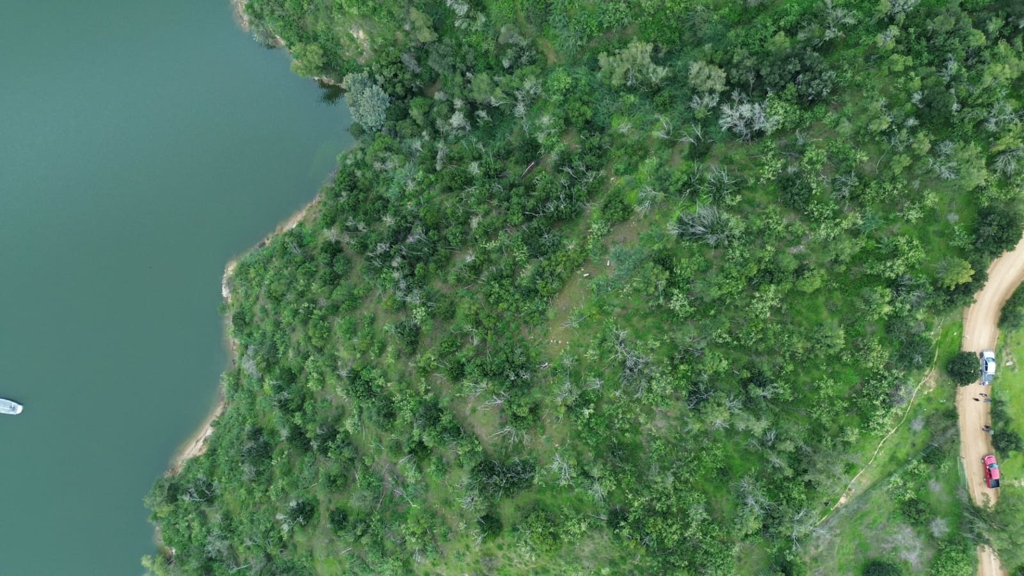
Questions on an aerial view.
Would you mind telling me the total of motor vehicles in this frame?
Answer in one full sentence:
Looking from above, you can make out 2 motor vehicles.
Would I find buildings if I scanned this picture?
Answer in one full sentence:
No, no building can be seen from above.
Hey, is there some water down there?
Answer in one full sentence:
Yes, the picture does contain water.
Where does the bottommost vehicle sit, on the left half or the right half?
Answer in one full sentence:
The bottommost vehicle sits on the right side.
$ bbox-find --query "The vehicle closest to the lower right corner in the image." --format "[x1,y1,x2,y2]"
[982,455,1002,492]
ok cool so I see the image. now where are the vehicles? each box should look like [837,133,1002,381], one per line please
[979,351,999,386]
[982,455,1002,492]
